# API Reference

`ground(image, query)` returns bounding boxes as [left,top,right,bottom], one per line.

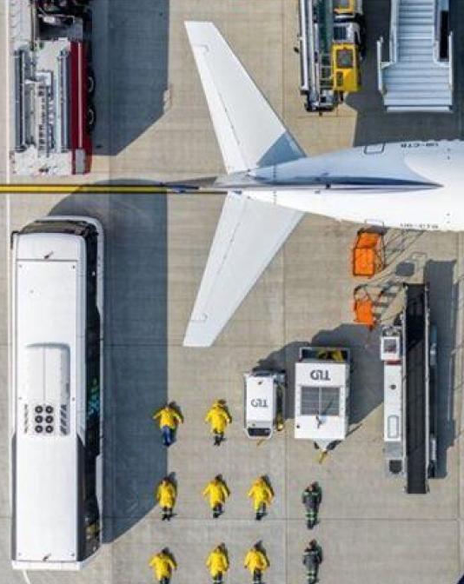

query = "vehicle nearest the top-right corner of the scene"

[294,0,369,119]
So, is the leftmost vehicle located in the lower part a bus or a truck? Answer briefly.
bus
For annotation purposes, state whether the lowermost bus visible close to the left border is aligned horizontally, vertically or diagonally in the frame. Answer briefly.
vertically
